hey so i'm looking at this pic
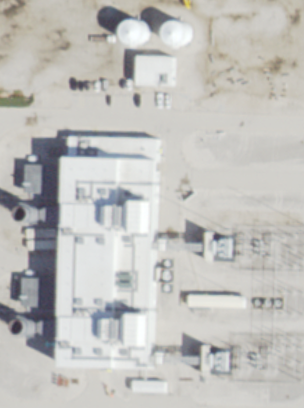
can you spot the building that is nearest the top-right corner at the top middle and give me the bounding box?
[134,54,176,86]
